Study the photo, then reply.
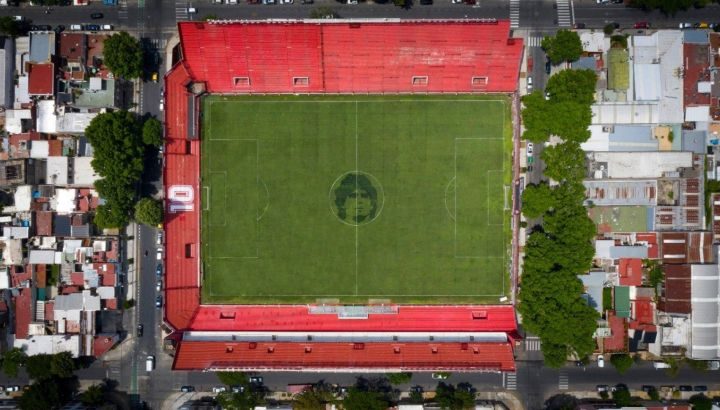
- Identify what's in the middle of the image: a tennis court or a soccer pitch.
soccer pitch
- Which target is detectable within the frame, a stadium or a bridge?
stadium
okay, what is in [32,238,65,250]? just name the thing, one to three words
house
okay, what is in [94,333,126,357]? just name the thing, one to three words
house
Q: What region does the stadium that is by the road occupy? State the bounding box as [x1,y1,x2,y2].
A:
[163,17,525,371]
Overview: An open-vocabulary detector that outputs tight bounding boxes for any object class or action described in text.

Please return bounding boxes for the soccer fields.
[198,92,513,305]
